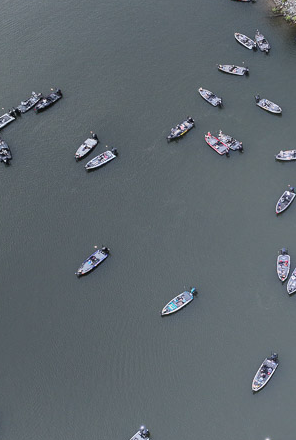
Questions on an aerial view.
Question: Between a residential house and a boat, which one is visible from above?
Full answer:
Looking from above, you can make out a boat.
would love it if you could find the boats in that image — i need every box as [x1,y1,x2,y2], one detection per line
[206,135,229,155]
[78,246,110,273]
[255,96,281,113]
[234,32,256,50]
[36,89,63,110]
[0,139,10,163]
[287,269,296,294]
[17,93,41,114]
[252,355,278,390]
[276,188,295,212]
[255,31,270,53]
[277,250,289,281]
[162,288,195,314]
[168,116,195,137]
[219,132,243,151]
[218,64,248,76]
[76,135,97,157]
[200,87,221,107]
[276,149,296,159]
[129,429,150,440]
[85,147,117,168]
[0,110,16,129]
